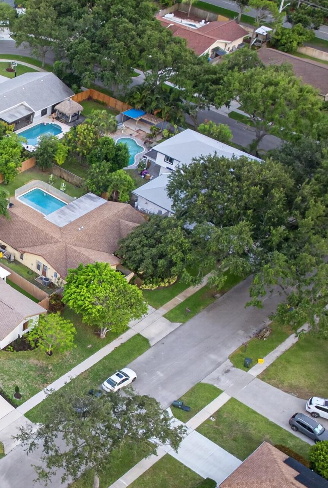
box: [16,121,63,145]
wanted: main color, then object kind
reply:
blue swimming pool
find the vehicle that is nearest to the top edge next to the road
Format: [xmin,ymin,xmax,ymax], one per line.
[103,365,137,390]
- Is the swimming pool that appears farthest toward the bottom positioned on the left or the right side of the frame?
left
